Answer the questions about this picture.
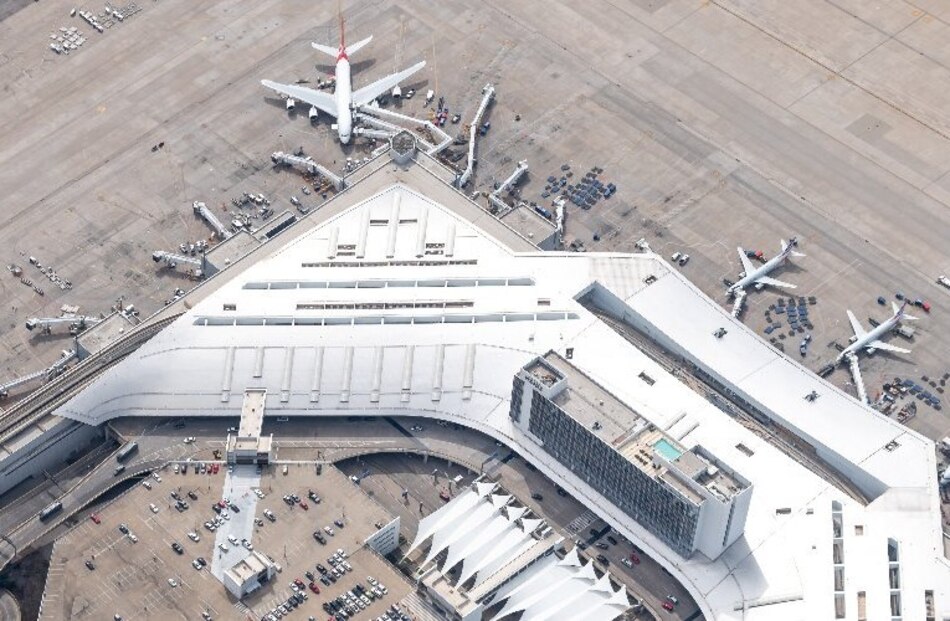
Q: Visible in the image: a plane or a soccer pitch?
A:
plane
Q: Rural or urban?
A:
urban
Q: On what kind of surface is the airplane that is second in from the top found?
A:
apron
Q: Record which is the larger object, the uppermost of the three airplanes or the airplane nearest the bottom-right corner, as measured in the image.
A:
the uppermost of the three airplanes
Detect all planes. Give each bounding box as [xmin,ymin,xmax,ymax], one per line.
[260,17,424,146]
[725,236,805,295]
[837,299,917,361]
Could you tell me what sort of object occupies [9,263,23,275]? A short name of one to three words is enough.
vehicle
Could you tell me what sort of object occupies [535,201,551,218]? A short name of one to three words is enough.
vehicle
